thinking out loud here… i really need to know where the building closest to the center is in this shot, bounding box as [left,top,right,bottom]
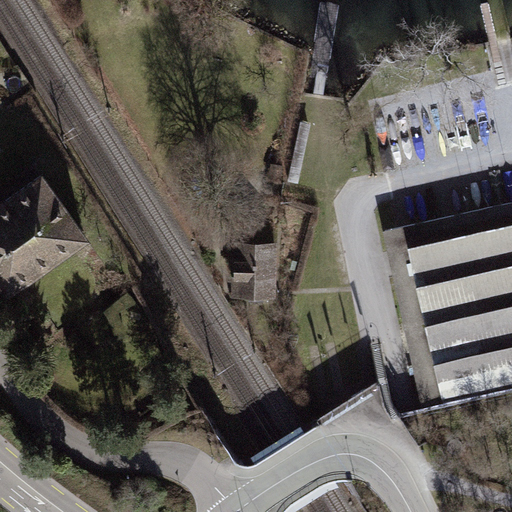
[230,244,278,302]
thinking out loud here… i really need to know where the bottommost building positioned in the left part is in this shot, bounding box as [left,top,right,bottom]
[104,294,144,353]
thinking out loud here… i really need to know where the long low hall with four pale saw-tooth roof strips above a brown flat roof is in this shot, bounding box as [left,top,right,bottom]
[382,201,512,408]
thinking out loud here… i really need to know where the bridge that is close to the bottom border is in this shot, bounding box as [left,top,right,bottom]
[248,425,352,512]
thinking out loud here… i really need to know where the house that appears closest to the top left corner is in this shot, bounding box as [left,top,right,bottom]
[0,175,87,304]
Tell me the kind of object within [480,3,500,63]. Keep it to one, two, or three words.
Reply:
pier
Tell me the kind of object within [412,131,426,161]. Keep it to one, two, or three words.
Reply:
boat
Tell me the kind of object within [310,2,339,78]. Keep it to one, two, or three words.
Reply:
pier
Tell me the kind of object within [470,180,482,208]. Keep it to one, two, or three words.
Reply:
boat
